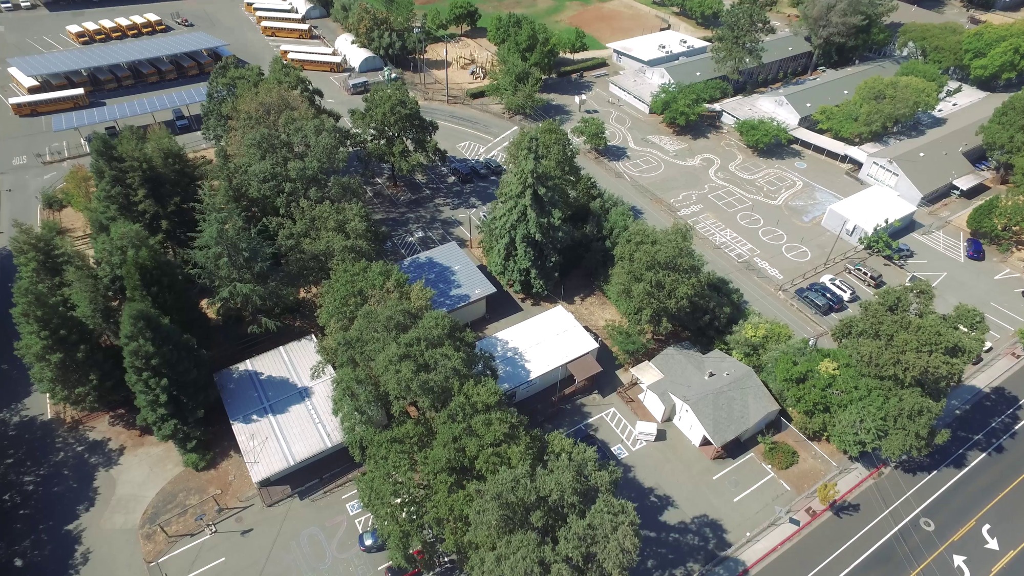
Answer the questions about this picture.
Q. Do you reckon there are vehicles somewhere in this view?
Yes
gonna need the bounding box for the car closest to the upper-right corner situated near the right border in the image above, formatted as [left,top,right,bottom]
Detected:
[962,239,984,261]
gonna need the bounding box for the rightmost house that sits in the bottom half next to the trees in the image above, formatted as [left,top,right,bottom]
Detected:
[615,342,781,460]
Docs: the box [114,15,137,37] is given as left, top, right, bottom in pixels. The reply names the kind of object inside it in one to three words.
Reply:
bus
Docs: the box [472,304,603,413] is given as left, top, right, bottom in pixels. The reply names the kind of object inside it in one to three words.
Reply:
building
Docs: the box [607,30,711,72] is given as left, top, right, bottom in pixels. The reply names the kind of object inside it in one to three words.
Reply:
building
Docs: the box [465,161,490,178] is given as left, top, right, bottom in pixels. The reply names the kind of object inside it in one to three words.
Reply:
car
